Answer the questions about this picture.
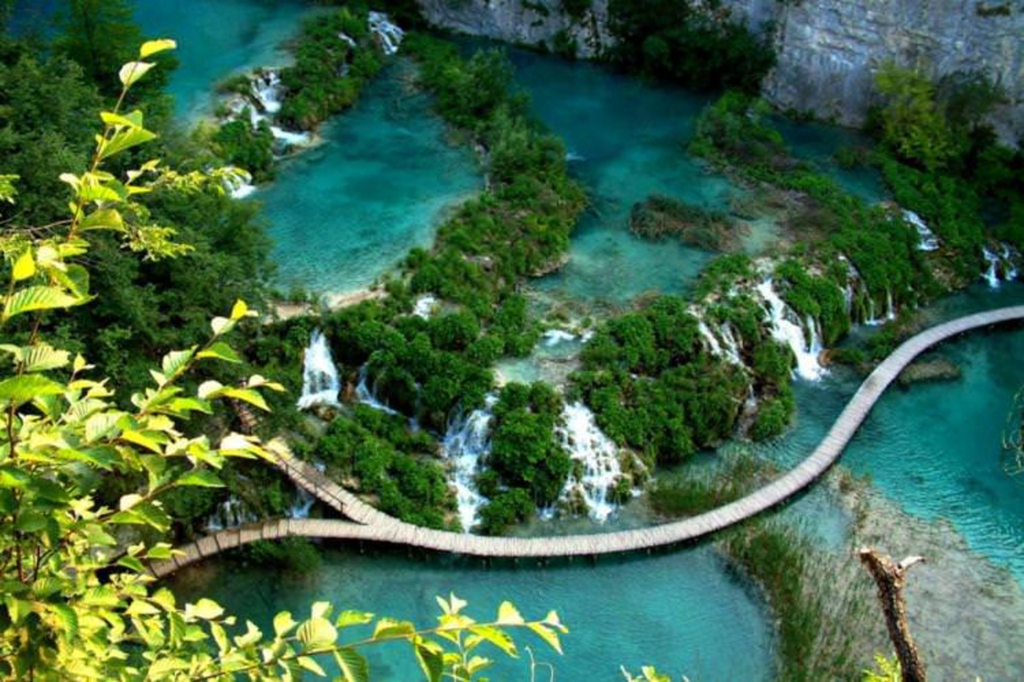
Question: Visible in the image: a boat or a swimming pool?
swimming pool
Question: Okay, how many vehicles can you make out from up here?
none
